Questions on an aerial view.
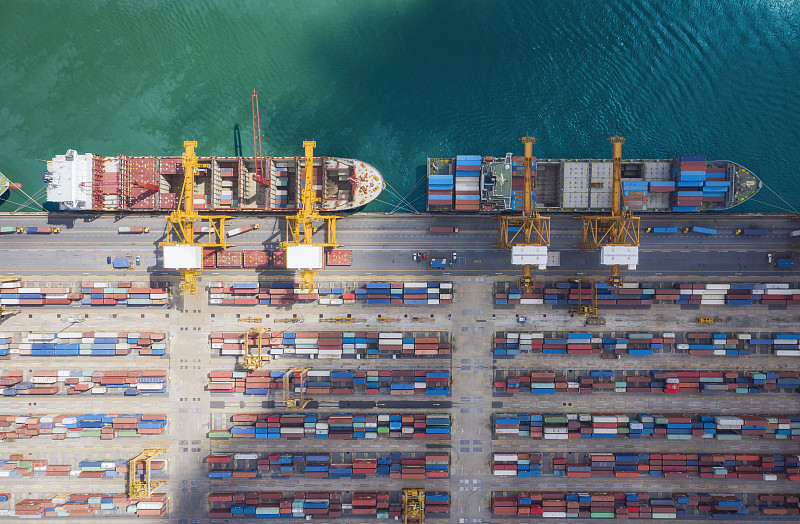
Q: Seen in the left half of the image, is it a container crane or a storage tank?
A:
container crane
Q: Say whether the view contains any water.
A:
Yes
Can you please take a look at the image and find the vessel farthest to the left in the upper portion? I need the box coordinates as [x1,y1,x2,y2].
[0,173,22,196]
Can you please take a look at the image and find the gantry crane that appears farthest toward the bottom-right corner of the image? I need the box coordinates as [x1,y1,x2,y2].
[566,277,600,319]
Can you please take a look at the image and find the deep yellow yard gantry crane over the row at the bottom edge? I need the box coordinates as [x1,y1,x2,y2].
[400,487,426,524]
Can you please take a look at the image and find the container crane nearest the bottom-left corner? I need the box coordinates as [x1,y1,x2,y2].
[133,449,168,499]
